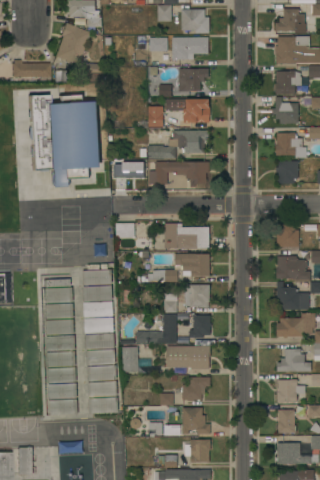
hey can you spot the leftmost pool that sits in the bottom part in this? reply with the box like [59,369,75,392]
[124,316,140,338]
